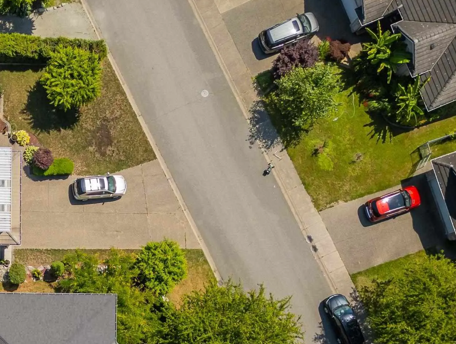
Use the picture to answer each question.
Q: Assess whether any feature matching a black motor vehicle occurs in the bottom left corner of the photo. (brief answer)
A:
No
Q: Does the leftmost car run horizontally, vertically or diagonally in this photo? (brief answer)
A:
horizontally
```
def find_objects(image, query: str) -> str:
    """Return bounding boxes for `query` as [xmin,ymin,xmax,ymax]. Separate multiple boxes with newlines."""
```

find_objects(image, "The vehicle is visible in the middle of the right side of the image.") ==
[364,187,421,221]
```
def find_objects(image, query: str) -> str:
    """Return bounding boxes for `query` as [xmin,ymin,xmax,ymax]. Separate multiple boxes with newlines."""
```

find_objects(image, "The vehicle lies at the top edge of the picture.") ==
[256,13,316,54]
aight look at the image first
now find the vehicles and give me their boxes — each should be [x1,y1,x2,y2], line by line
[72,172,126,201]
[256,13,316,54]
[323,290,367,344]
[364,187,421,221]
